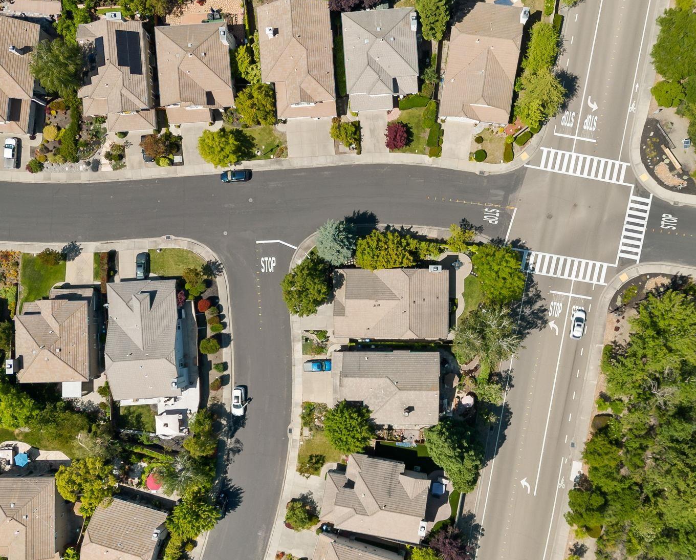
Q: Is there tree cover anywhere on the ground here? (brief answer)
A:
Yes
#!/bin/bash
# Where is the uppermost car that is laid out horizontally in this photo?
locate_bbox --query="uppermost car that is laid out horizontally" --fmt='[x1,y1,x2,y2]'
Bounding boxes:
[221,169,254,184]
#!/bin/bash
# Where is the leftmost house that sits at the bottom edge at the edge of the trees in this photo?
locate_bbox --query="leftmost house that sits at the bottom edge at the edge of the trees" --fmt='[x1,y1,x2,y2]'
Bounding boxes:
[0,472,69,560]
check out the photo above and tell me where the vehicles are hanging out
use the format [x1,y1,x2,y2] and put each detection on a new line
[302,358,332,374]
[569,308,588,341]
[134,250,151,281]
[140,134,157,166]
[221,169,254,184]
[231,384,252,416]
[3,136,21,173]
